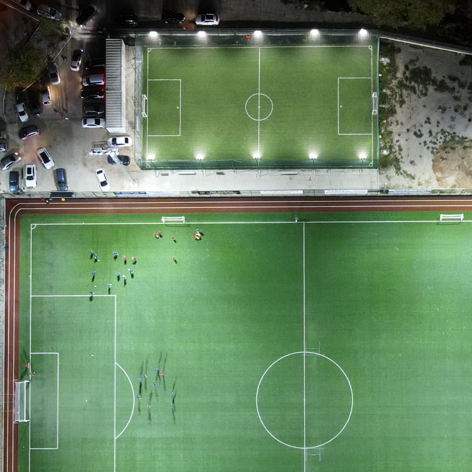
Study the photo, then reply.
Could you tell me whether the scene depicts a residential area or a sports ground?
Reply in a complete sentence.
It's a sports ground.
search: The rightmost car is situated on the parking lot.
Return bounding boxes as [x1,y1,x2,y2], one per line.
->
[195,12,219,26]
